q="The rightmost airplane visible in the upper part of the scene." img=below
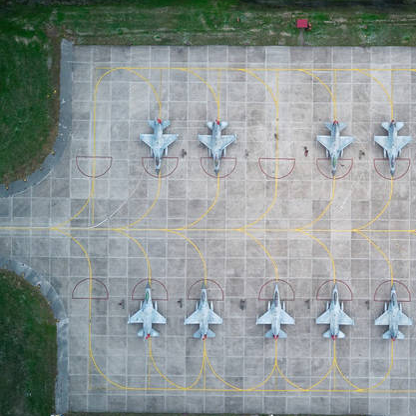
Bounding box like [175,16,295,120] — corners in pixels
[374,119,412,178]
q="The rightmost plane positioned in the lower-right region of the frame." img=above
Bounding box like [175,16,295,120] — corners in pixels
[374,285,413,341]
